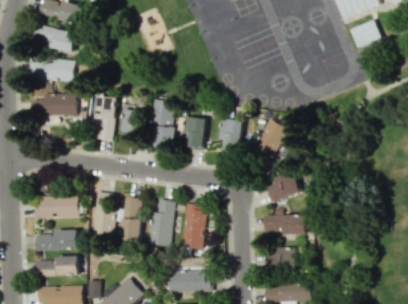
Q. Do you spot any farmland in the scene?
No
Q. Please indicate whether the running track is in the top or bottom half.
top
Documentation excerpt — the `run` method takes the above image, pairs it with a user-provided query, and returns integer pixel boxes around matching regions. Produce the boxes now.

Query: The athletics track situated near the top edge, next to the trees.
[260,0,359,99]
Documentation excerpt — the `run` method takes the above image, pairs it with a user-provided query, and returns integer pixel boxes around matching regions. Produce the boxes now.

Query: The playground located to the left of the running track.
[140,8,175,52]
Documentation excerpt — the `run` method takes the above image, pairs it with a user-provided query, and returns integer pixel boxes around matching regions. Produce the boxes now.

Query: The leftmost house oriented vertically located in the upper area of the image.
[94,94,115,141]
